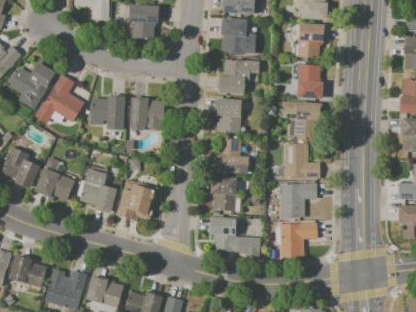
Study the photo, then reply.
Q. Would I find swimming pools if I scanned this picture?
Yes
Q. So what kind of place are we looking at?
residential area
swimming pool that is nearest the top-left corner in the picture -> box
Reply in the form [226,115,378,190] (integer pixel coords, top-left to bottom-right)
[22,123,54,151]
